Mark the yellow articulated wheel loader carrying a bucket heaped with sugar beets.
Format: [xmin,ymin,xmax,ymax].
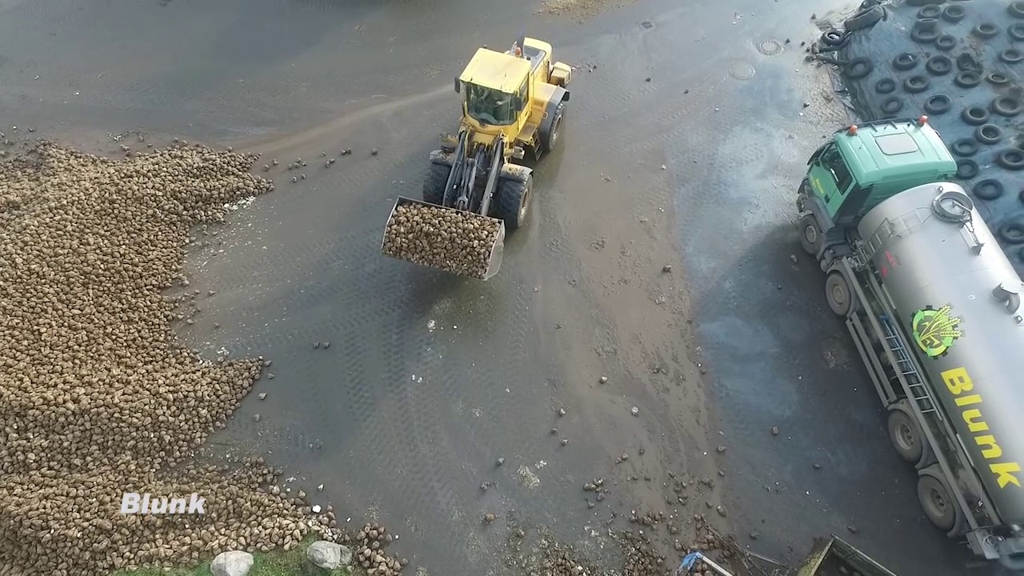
[379,30,575,285]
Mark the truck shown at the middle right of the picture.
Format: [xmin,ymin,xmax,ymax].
[793,120,1024,576]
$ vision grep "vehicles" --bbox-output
[379,30,575,285]
[793,120,1024,576]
